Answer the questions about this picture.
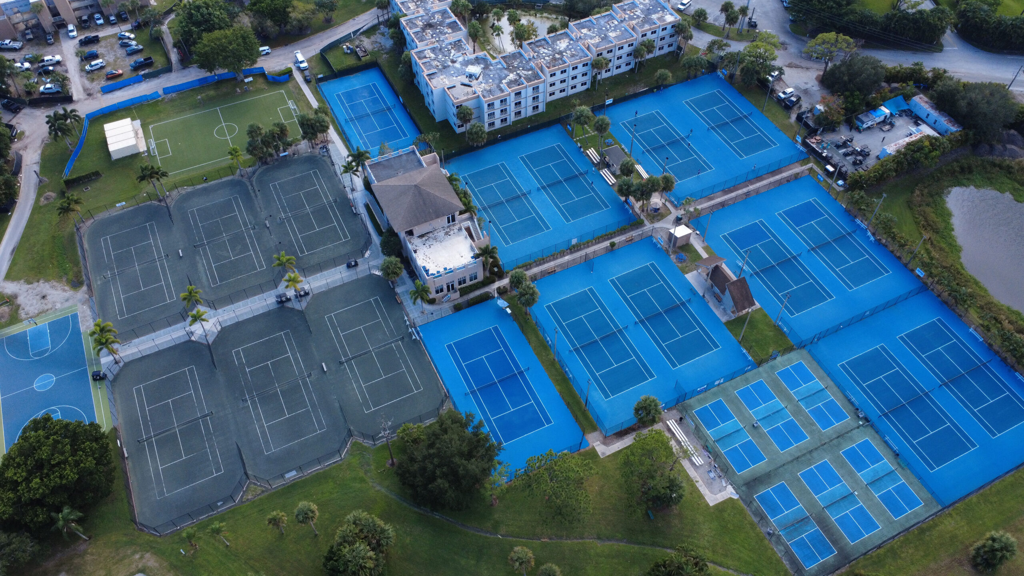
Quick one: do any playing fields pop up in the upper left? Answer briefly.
Yes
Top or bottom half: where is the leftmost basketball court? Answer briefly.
bottom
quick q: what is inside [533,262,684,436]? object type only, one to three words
tennis court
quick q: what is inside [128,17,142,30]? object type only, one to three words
vehicle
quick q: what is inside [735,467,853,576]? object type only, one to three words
sports court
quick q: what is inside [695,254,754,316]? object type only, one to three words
building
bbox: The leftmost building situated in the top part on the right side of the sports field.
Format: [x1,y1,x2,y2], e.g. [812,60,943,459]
[367,148,491,299]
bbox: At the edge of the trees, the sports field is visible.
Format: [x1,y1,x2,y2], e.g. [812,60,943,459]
[145,83,318,182]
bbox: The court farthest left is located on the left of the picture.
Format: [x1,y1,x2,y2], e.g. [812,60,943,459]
[0,296,117,467]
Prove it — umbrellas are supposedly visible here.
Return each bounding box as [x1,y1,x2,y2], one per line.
[651,196,665,206]
[496,296,512,308]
